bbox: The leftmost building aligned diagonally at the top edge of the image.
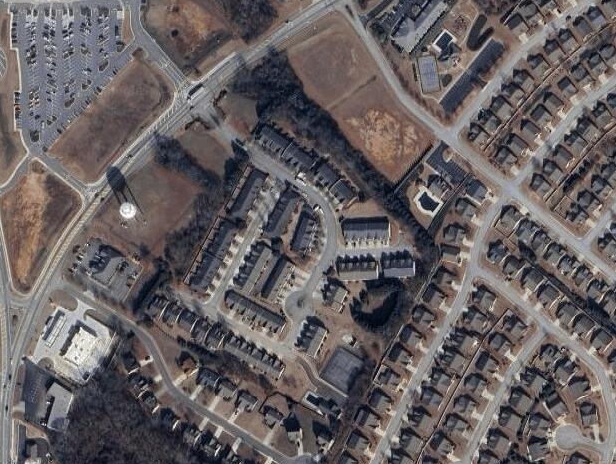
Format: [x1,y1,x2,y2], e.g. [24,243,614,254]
[385,0,449,55]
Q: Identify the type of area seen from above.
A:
residential area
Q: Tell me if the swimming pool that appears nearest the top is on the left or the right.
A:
right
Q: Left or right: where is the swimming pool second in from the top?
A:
right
